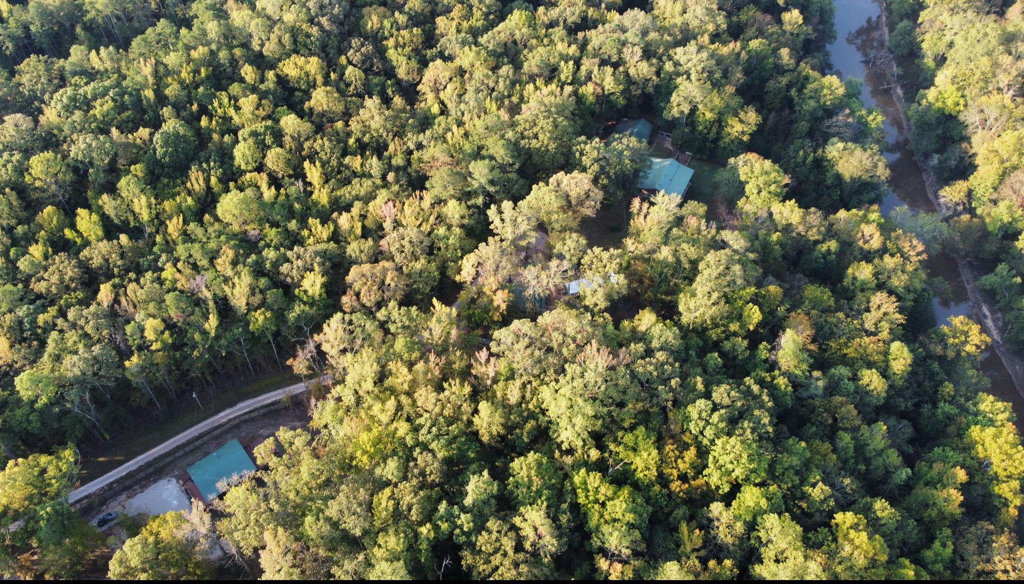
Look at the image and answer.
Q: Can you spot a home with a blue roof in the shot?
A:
Yes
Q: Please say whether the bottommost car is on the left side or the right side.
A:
left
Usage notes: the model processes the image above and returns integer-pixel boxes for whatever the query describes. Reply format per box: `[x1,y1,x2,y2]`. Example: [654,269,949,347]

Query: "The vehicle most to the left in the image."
[91,508,119,529]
